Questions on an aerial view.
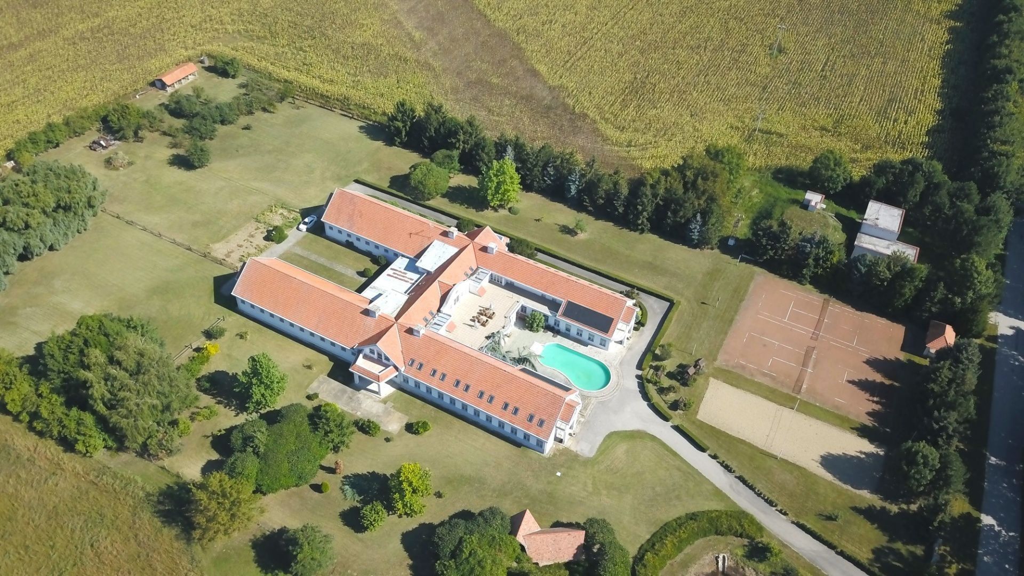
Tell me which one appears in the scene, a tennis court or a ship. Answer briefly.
tennis court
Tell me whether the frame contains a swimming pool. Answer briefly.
Yes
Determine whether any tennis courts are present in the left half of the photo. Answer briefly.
No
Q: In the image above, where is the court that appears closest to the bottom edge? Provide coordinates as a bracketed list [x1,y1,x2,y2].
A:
[697,378,887,499]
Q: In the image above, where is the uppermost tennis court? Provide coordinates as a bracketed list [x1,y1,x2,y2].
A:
[722,274,907,425]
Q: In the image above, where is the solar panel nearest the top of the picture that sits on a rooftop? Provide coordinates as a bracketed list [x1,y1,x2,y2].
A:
[562,299,614,332]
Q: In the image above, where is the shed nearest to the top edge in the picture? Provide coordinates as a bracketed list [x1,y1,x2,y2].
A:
[155,62,201,94]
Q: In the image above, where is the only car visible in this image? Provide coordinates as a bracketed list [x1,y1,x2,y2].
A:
[298,214,317,228]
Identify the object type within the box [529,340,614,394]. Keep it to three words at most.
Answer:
swimming pool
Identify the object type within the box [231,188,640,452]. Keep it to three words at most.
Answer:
building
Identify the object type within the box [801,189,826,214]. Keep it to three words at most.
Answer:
building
